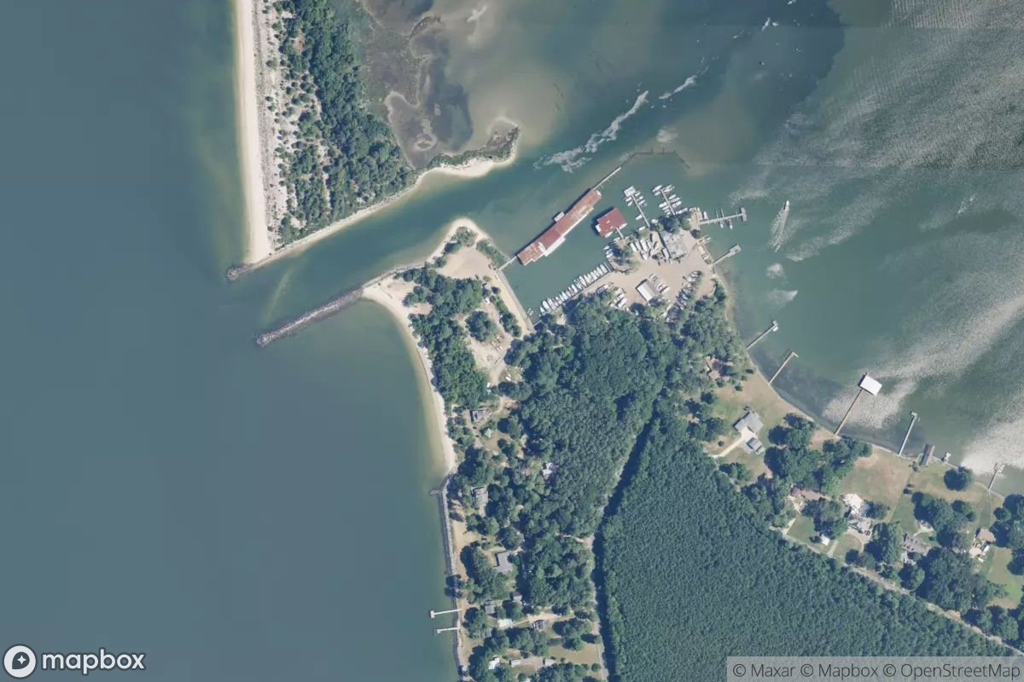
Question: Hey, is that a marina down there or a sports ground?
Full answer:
The picture captures a marina.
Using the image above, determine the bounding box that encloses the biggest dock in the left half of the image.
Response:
[257,287,364,345]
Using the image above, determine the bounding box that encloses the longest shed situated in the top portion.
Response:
[518,188,601,264]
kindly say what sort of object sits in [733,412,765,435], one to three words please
house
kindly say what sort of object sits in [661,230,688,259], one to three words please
building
